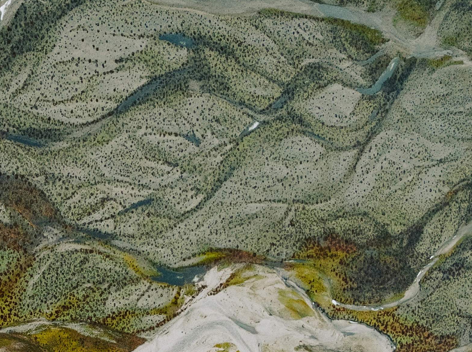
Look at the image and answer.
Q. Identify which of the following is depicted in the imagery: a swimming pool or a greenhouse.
swimming pool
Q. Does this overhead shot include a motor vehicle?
No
